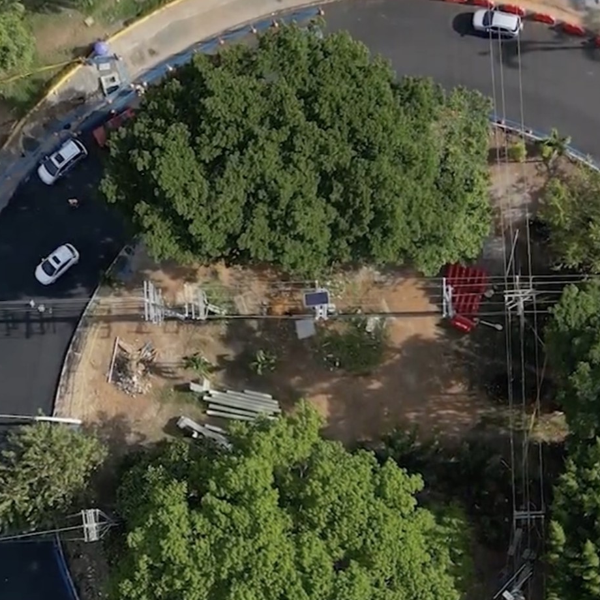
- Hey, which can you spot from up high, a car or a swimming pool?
car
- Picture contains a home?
No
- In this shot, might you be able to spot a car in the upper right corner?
Yes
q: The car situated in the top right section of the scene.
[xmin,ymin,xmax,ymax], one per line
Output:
[473,6,526,37]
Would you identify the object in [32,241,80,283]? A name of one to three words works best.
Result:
car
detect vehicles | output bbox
[473,6,526,37]
[35,138,87,181]
[32,241,80,283]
